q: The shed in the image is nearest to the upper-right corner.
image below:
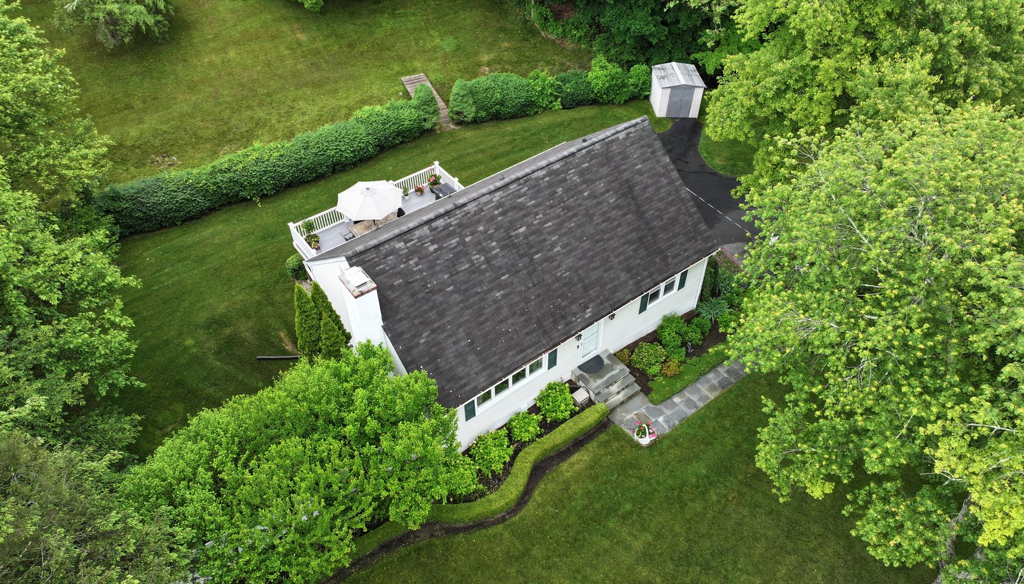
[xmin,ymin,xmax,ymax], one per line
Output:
[654,59,706,118]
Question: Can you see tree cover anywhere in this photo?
Yes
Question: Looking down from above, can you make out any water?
No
